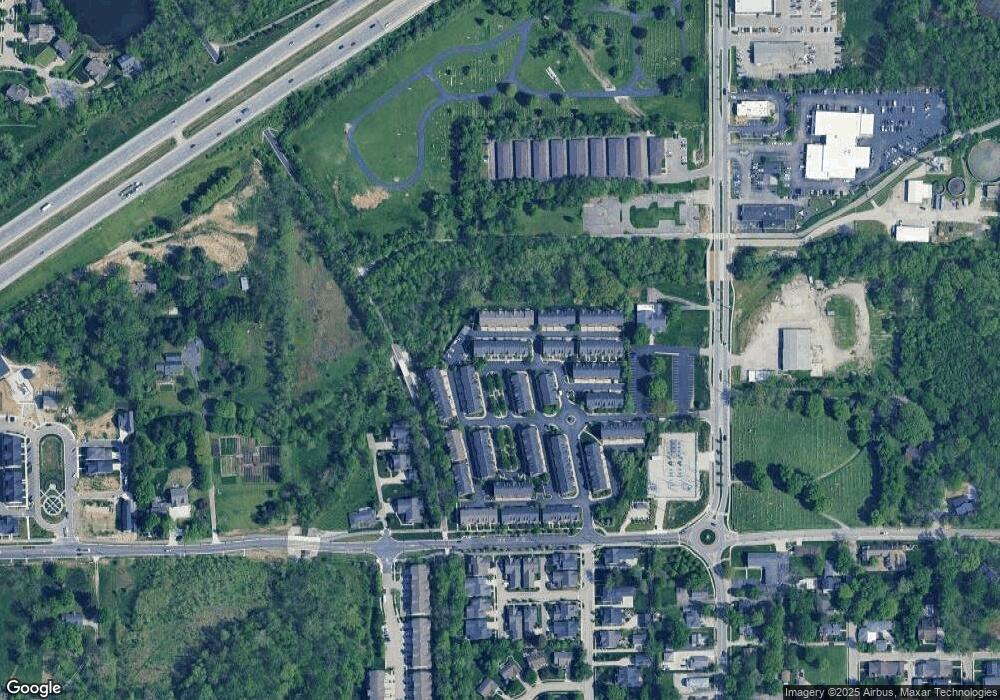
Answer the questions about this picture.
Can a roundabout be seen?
Yes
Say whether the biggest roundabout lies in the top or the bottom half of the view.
bottom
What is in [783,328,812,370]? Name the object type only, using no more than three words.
barn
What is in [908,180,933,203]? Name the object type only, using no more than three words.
building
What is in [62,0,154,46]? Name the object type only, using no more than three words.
pond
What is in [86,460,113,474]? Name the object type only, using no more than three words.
house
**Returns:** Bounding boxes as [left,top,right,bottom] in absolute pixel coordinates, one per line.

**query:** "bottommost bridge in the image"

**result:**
[288,528,319,558]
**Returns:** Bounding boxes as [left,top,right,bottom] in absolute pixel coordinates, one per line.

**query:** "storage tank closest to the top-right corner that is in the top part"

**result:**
[969,140,1000,183]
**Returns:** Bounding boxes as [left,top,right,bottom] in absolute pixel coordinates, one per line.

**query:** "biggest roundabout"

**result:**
[679,505,738,562]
